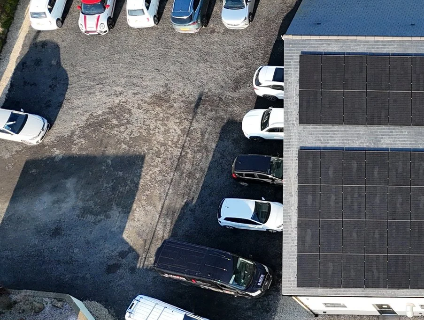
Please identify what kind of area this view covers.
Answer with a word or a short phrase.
parking lot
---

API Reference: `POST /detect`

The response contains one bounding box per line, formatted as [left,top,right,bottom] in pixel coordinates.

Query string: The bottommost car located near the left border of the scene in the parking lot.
[0,103,55,147]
